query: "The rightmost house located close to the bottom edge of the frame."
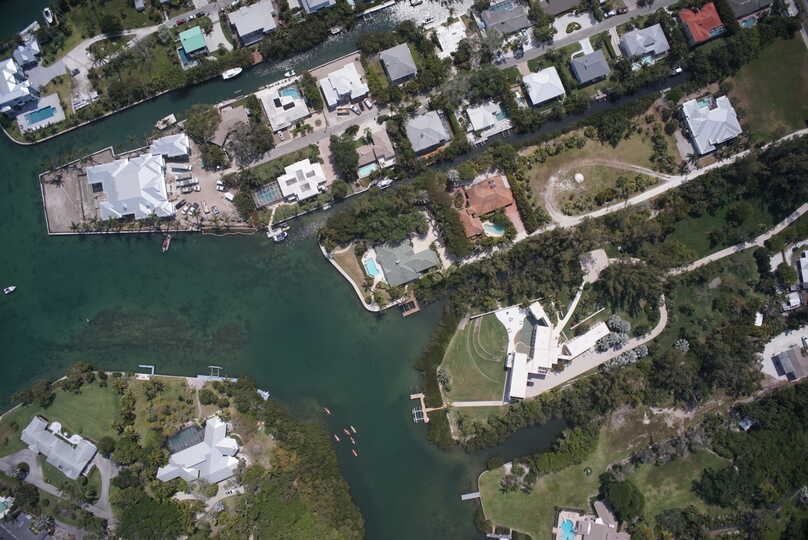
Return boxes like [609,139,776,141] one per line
[576,493,633,540]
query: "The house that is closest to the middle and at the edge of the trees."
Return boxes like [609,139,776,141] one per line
[376,240,442,287]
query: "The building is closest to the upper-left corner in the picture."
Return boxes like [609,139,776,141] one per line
[12,39,45,69]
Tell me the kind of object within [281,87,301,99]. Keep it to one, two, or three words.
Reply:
swimming pool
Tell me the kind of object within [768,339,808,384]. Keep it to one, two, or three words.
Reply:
house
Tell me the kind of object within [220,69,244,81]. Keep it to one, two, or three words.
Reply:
boat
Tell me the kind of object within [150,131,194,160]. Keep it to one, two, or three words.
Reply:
building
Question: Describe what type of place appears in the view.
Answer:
residential area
